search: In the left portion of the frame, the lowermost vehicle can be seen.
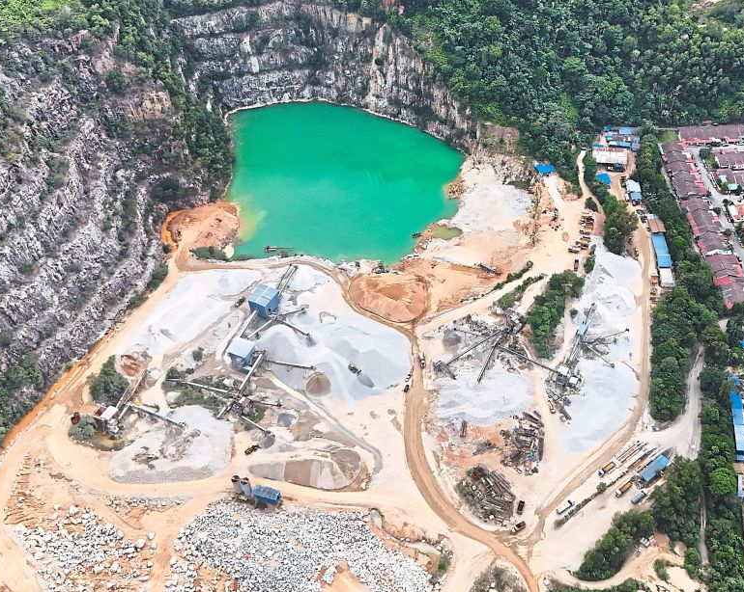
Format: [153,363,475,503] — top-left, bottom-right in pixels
[246,441,266,454]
